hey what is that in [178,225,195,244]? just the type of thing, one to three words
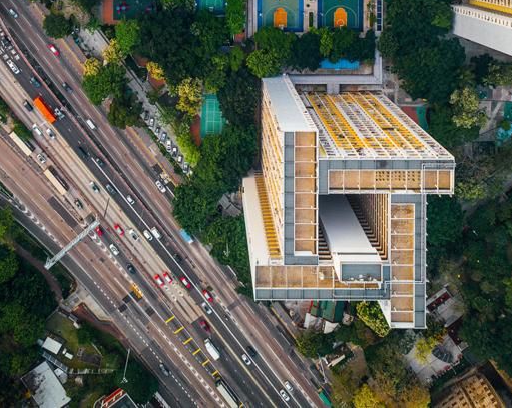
vehicle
